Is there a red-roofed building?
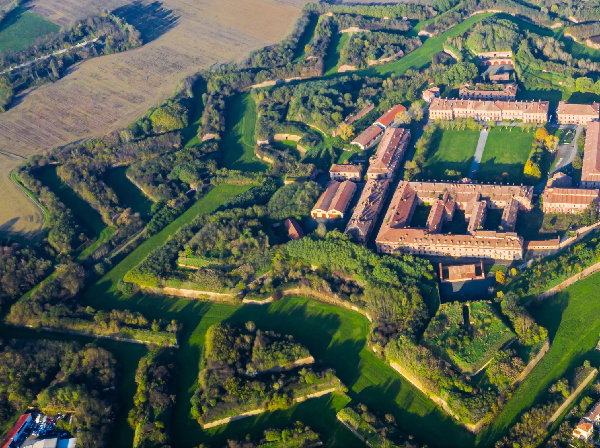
Yes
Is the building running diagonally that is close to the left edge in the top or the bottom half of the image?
bottom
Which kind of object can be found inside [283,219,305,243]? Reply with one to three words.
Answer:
shed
